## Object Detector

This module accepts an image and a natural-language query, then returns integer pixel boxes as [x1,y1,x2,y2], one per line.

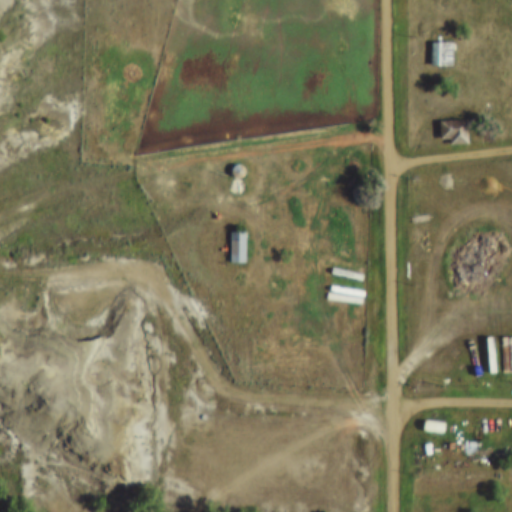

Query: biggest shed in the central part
[230,232,247,262]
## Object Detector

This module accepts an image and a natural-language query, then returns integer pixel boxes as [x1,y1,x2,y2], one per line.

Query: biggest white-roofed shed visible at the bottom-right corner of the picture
[424,420,448,435]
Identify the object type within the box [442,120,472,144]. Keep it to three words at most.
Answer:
house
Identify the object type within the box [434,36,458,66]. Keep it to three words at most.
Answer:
house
